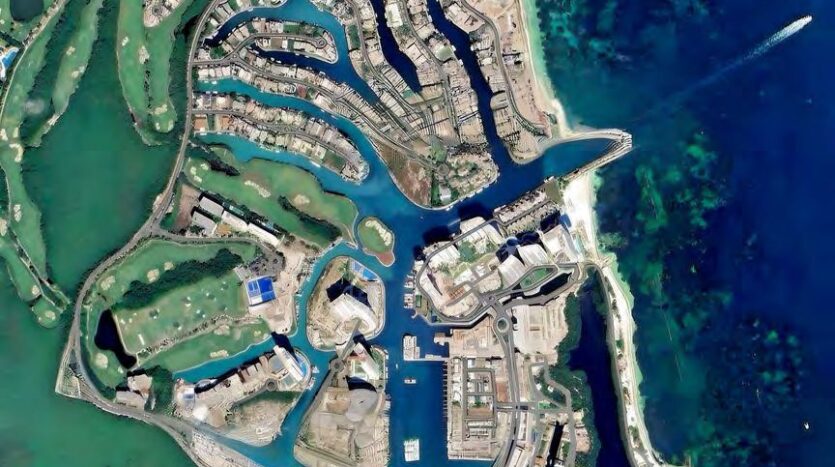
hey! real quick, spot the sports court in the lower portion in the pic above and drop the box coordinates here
[245,274,276,307]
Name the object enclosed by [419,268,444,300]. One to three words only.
building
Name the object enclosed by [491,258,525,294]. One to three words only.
building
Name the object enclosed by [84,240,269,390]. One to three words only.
golf course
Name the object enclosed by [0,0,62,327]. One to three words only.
golf course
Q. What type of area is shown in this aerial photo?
port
